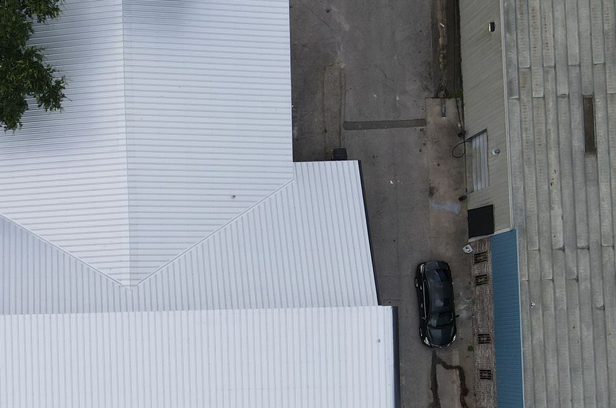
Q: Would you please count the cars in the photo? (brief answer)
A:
1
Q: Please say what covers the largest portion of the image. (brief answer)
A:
buildings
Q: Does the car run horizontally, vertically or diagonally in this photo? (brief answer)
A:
vertically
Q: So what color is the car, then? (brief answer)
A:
black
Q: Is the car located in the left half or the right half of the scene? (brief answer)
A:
right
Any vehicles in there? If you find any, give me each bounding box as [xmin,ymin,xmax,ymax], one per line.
[417,259,463,346]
